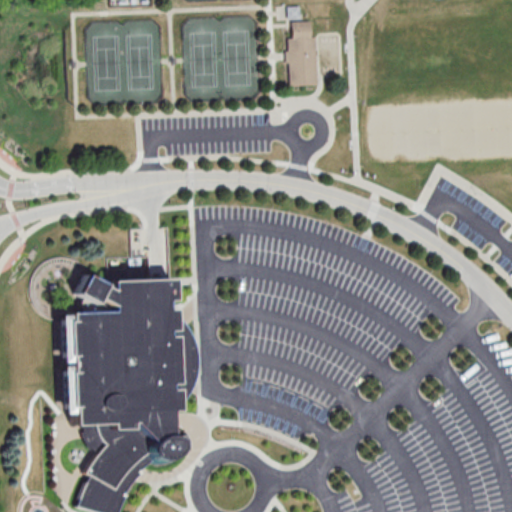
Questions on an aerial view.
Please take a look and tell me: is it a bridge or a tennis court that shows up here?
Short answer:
tennis court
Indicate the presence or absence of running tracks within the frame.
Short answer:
No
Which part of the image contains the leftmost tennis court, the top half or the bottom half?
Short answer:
top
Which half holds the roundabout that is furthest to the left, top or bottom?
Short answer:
bottom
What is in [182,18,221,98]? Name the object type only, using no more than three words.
tennis court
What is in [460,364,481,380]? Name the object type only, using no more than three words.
vehicle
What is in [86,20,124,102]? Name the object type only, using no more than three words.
tennis court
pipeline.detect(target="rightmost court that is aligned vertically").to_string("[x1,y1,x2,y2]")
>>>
[220,16,256,98]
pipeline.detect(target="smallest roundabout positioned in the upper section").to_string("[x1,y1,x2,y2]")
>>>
[286,110,328,152]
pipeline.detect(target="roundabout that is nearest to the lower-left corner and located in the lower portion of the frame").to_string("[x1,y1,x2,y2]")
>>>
[191,447,271,512]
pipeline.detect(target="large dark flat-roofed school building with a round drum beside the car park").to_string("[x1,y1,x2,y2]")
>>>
[64,273,200,512]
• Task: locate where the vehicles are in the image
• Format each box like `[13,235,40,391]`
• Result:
[264,114,270,125]
[504,366,512,374]
[495,348,512,360]
[355,376,364,387]
[488,340,508,352]
[498,357,512,368]
[432,398,442,407]
[480,332,501,344]
[460,364,481,380]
